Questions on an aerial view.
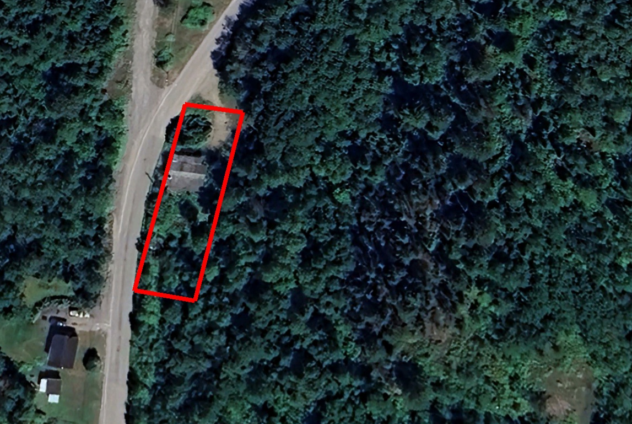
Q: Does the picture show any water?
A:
No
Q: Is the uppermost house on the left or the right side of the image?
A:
left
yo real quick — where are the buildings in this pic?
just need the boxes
[168,153,207,192]
[49,330,78,370]
[39,378,62,402]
